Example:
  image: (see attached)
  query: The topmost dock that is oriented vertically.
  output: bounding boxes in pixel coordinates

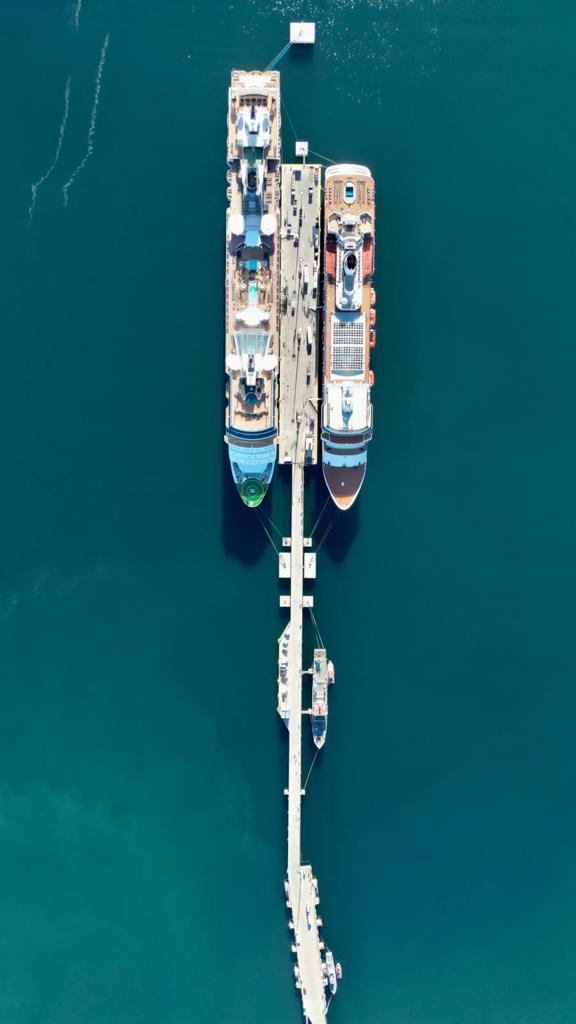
[279,164,323,464]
